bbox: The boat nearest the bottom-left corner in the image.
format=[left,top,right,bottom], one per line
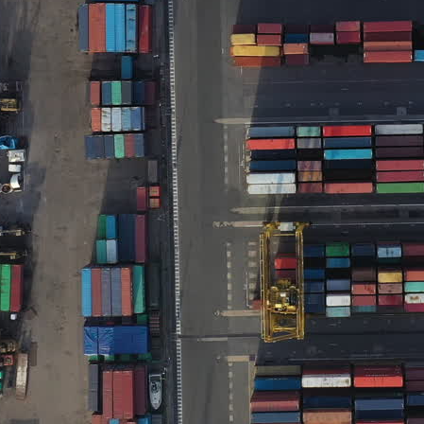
[149,374,162,411]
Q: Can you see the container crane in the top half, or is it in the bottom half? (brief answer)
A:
bottom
